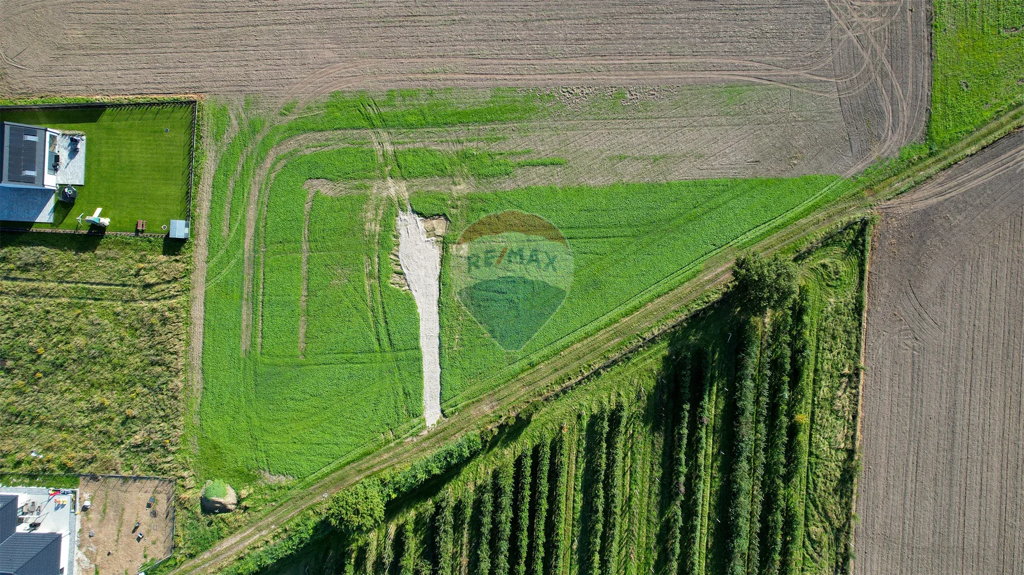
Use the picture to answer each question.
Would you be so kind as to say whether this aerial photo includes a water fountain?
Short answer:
No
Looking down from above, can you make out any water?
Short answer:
No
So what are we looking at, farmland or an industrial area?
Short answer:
farmland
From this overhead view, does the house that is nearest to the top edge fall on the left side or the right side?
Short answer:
left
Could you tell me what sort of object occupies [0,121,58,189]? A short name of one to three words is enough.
house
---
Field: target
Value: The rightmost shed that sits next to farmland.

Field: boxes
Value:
[170,219,189,237]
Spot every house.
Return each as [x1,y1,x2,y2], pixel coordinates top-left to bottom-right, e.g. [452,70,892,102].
[0,121,58,189]
[0,491,72,575]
